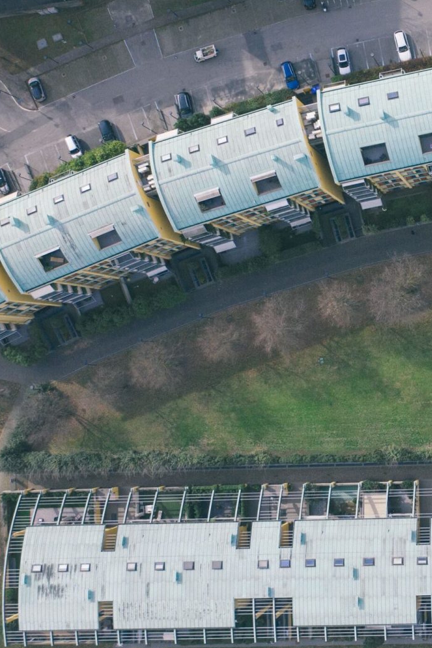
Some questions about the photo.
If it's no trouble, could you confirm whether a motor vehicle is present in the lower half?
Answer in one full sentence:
No, in the lower half there is no motor vehicle.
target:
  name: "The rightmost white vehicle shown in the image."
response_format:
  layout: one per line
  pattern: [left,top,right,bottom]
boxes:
[395,30,412,57]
